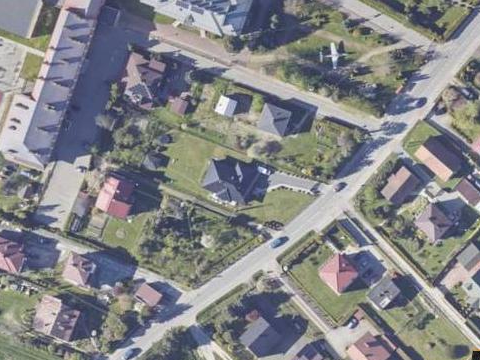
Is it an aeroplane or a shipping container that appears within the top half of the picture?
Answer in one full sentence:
Visible within the top half of the picture is an aeroplane.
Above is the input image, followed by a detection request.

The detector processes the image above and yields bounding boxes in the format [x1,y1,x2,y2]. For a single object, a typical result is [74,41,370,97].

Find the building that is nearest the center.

[203,159,257,205]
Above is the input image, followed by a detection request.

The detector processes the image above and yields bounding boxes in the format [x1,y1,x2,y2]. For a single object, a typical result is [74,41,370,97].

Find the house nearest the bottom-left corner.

[34,294,80,341]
